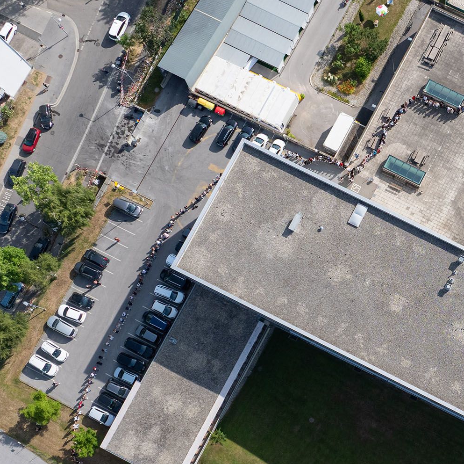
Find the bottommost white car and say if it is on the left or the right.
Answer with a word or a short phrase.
left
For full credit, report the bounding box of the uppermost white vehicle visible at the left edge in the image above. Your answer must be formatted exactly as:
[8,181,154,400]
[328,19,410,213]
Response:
[0,21,20,44]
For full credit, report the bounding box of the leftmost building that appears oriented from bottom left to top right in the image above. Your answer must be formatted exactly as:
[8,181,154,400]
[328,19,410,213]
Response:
[159,0,254,92]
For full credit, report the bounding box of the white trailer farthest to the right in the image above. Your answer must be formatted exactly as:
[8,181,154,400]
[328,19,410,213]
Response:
[323,113,355,158]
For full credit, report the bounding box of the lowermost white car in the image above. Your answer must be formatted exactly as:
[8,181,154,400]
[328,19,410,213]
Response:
[85,404,113,428]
